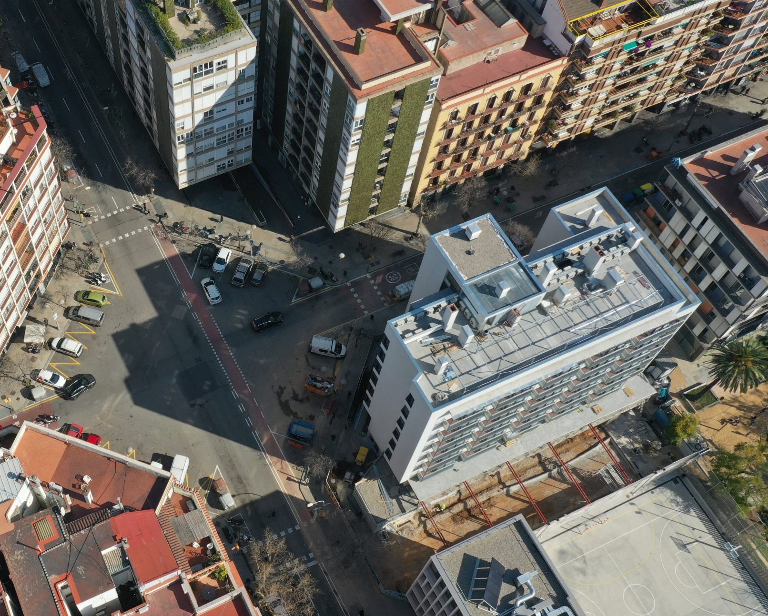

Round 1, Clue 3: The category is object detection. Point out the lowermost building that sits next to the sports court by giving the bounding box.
[405,515,582,616]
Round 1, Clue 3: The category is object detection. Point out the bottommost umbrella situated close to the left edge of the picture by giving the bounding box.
[25,326,45,344]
